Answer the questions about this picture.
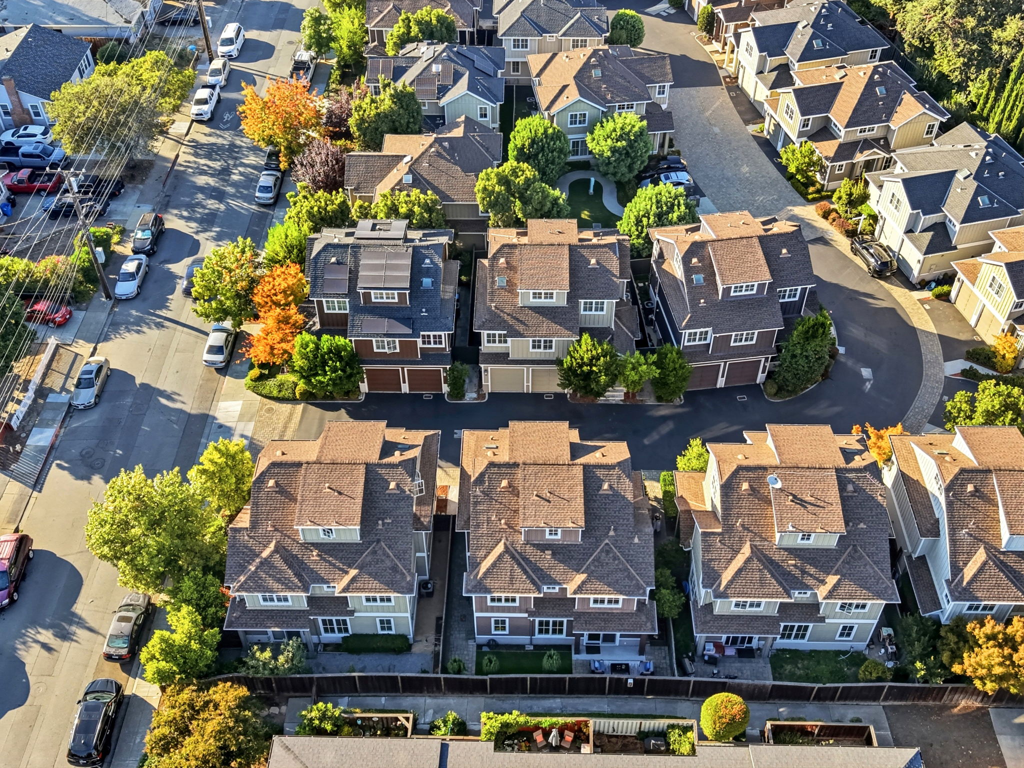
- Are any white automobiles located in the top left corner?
Yes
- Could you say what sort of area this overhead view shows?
residential area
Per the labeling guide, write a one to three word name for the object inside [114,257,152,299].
car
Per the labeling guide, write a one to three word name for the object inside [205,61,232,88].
car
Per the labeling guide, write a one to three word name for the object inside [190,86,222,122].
truck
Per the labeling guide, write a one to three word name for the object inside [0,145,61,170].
truck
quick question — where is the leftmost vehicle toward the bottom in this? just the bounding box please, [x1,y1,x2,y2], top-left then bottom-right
[0,535,38,607]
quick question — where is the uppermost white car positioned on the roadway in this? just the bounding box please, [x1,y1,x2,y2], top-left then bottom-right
[219,25,246,58]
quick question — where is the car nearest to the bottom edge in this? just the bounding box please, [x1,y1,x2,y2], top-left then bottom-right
[63,684,127,768]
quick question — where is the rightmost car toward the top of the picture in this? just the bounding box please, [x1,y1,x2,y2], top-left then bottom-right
[847,240,903,278]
